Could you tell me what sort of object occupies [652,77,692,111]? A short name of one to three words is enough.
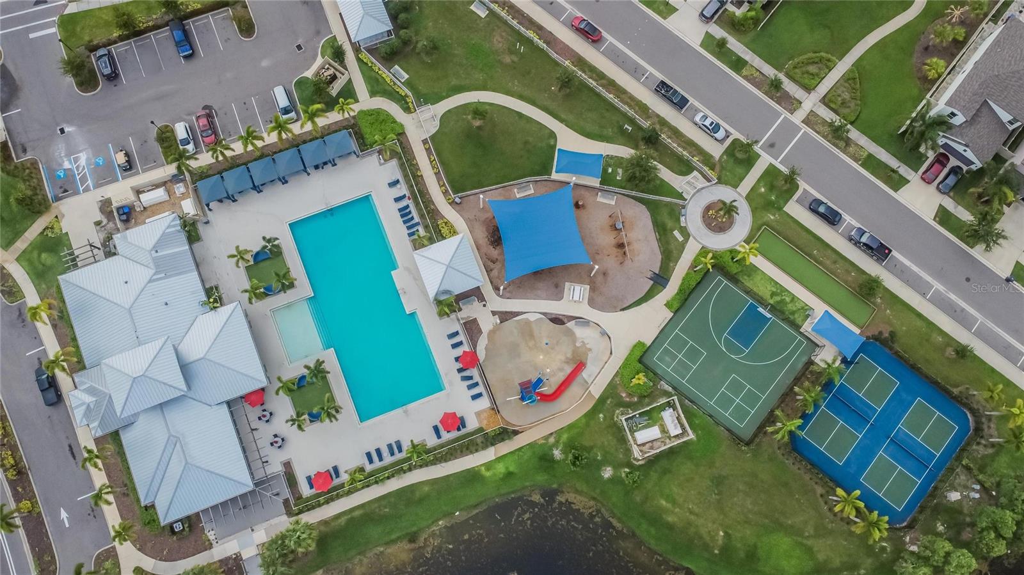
truck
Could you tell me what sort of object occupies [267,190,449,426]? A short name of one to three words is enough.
swimming pool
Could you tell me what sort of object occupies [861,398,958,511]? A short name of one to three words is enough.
sports court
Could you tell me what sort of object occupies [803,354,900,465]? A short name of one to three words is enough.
sports court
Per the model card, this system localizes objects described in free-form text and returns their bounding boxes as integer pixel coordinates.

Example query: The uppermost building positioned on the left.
[338,0,396,50]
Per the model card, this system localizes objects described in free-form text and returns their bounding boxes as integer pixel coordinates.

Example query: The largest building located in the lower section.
[57,212,270,526]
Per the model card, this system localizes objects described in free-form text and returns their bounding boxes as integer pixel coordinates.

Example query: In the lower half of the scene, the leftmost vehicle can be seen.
[31,365,63,411]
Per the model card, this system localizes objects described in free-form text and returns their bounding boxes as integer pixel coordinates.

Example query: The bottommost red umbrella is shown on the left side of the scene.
[311,470,334,493]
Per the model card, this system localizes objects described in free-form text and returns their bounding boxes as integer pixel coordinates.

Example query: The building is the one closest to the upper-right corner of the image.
[927,7,1024,168]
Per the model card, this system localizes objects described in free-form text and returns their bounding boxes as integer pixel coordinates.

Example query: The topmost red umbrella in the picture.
[458,349,480,370]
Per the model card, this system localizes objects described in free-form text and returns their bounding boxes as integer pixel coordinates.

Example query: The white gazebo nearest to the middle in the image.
[413,233,484,303]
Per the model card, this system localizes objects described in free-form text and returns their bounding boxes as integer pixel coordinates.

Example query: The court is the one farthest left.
[641,267,812,444]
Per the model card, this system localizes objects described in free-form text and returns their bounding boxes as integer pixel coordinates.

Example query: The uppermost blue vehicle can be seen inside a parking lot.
[167,17,193,59]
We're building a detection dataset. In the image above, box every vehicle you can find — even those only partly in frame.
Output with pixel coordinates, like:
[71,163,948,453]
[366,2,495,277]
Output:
[935,164,967,195]
[848,226,895,263]
[807,198,844,227]
[569,15,604,43]
[693,111,727,141]
[94,47,119,82]
[920,151,952,183]
[652,77,692,111]
[113,153,132,176]
[271,83,299,122]
[196,109,220,147]
[31,365,63,411]
[174,120,197,155]
[698,0,726,23]
[167,17,193,59]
